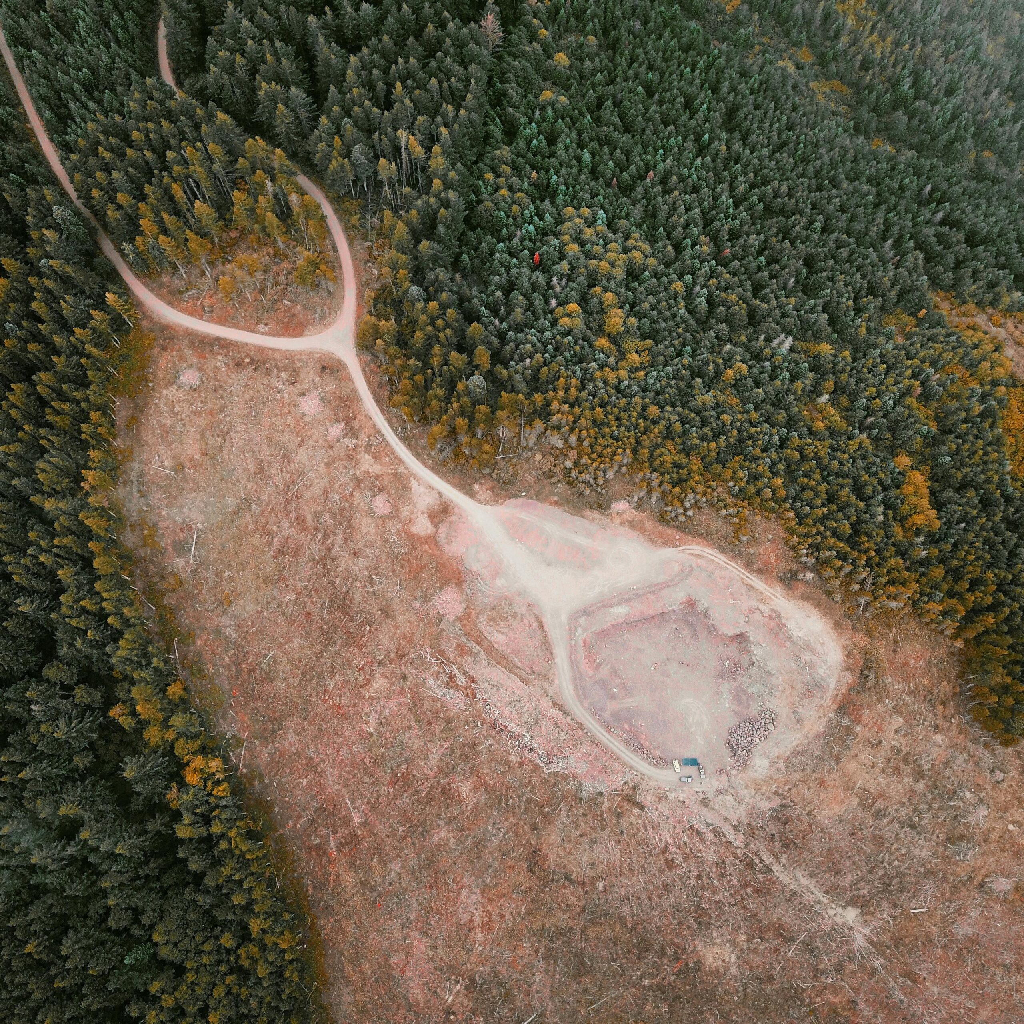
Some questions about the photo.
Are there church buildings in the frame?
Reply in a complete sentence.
No, the scene contains no church building.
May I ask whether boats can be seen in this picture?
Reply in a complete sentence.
No, I find no boat anywhere in the image.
